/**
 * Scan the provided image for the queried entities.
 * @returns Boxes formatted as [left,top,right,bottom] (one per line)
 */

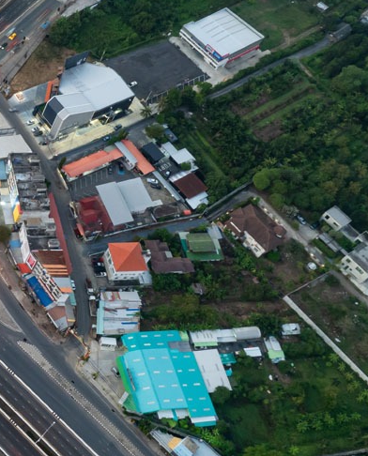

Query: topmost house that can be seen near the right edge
[315,205,360,247]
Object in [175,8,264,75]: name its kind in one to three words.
building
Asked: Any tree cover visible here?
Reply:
Yes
